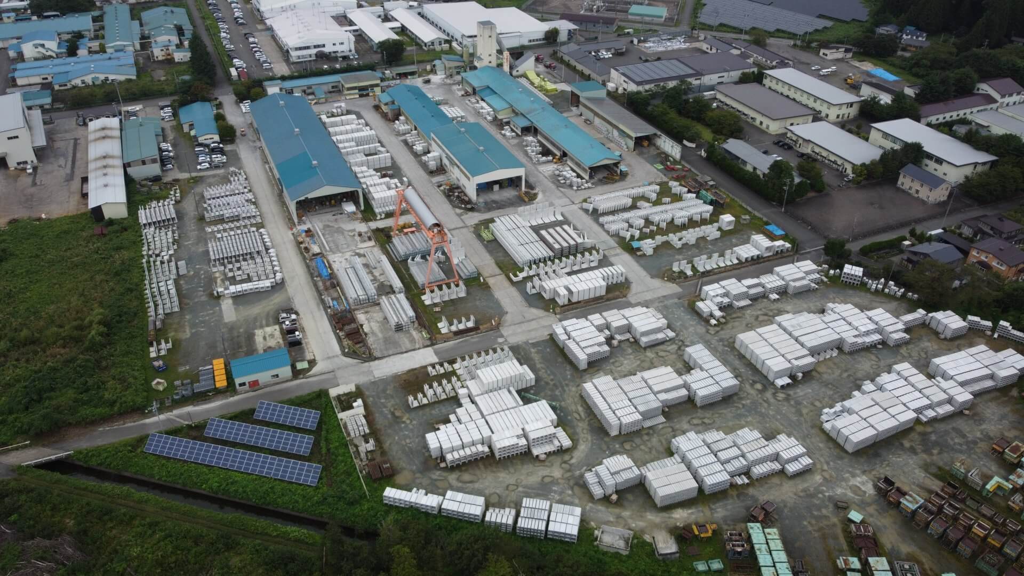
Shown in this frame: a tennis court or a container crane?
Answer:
container crane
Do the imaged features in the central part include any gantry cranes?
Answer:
Yes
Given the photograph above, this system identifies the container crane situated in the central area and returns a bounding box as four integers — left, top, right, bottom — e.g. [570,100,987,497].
[400,180,461,289]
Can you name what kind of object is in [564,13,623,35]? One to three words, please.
building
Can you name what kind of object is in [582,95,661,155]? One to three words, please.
shed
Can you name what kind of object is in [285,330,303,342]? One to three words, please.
vehicle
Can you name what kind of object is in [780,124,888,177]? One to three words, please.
building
